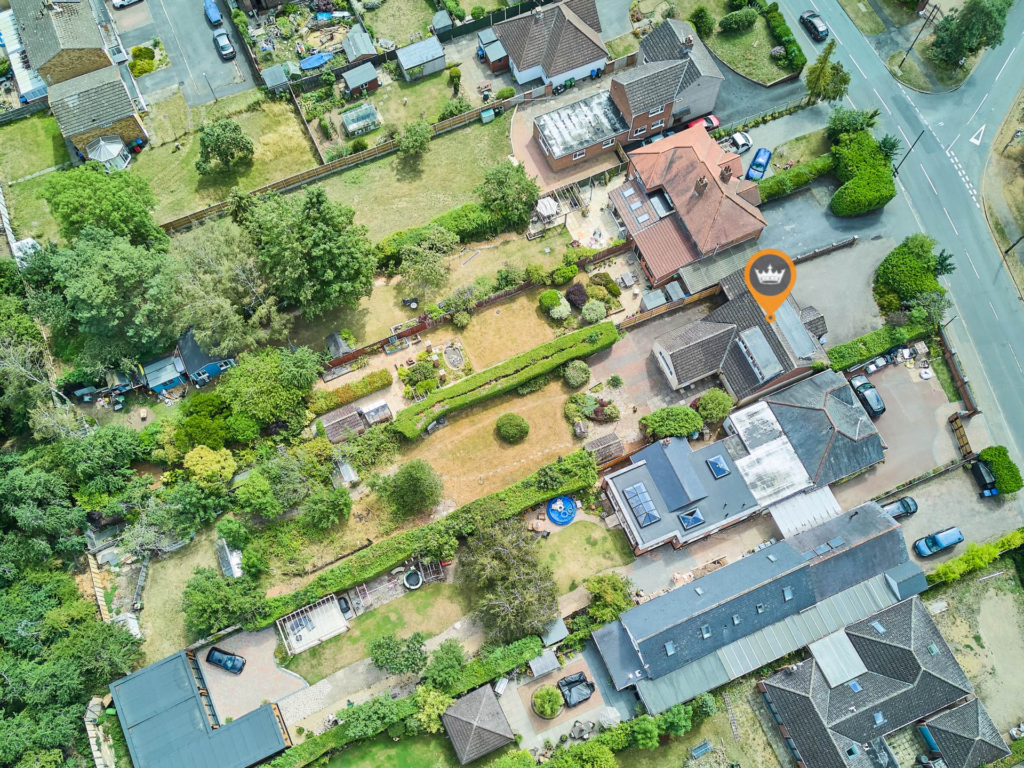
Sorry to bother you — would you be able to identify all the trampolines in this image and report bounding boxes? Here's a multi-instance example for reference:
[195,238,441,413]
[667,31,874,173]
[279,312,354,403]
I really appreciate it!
[403,570,423,590]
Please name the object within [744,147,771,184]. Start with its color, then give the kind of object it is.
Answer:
blue car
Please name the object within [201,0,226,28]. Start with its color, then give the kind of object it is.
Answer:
blue car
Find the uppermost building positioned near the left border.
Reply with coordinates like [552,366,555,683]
[0,0,135,109]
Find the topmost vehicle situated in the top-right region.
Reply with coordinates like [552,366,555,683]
[797,8,833,45]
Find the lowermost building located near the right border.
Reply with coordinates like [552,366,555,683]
[917,697,1013,768]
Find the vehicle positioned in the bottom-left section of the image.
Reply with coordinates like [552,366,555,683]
[202,643,250,678]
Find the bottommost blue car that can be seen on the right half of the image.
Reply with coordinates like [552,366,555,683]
[911,524,968,558]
